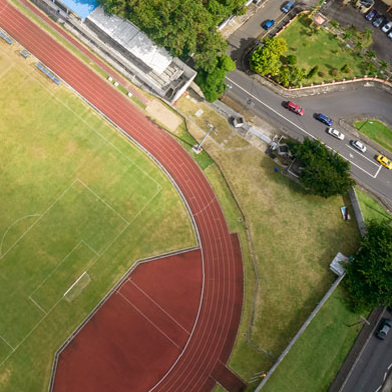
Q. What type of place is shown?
sports ground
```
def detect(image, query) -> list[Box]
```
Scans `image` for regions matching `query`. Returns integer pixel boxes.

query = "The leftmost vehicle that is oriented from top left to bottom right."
[286,100,304,115]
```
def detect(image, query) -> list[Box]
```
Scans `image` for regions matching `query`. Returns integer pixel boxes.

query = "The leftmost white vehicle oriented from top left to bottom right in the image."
[327,126,345,141]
